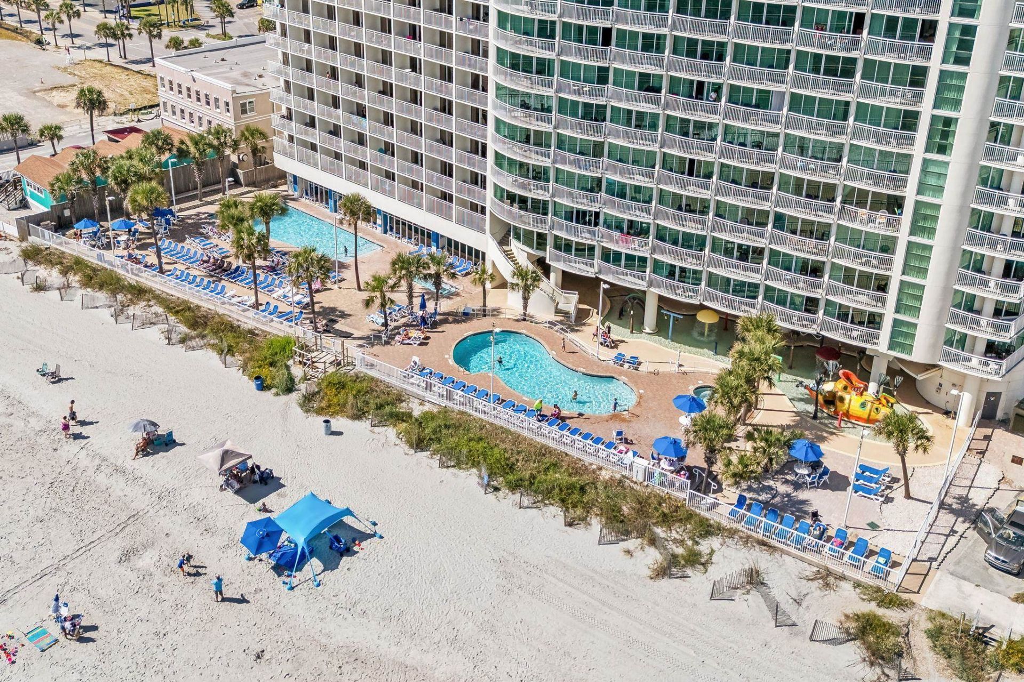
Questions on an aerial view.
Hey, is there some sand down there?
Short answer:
Yes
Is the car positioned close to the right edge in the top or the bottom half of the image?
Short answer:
bottom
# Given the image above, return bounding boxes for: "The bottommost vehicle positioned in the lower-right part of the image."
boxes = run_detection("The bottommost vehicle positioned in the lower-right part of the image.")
[980,508,1024,566]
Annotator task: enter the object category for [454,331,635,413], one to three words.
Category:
swimming pool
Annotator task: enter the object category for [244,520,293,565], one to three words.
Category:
umbrella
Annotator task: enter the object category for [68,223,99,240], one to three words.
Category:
umbrella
